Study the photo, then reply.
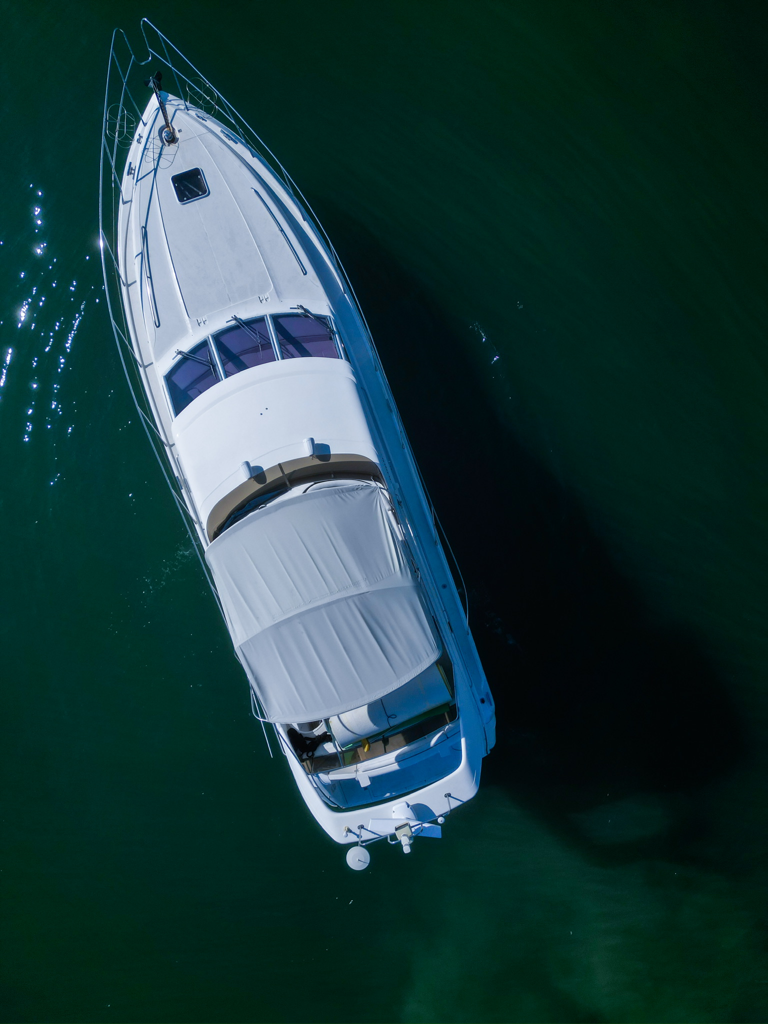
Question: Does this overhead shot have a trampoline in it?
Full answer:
No, the picture doesn't show any trampoline.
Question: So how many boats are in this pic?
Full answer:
The picture shows 1 boat.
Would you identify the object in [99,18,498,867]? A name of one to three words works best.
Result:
boat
